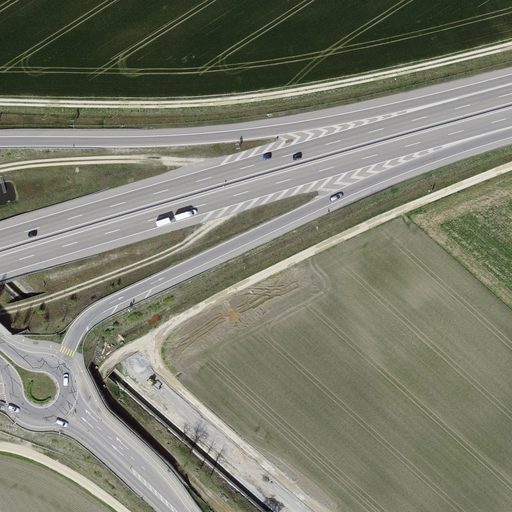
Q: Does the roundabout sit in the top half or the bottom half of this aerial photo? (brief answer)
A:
bottom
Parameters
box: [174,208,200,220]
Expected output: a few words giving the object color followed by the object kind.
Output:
white vehicle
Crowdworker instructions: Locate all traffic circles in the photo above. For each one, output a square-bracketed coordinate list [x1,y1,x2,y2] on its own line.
[0,323,200,512]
